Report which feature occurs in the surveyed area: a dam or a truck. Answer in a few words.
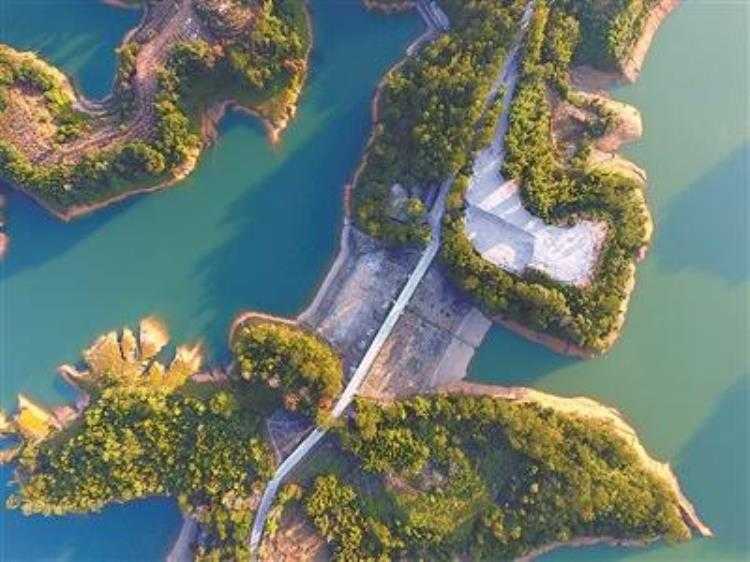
dam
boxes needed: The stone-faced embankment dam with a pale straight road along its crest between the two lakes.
[294,212,492,418]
